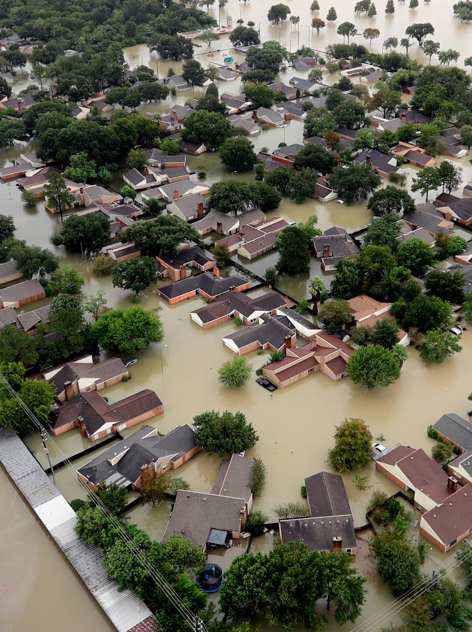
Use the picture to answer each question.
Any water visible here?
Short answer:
Yes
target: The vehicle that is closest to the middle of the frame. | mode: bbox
[250,378,277,395]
